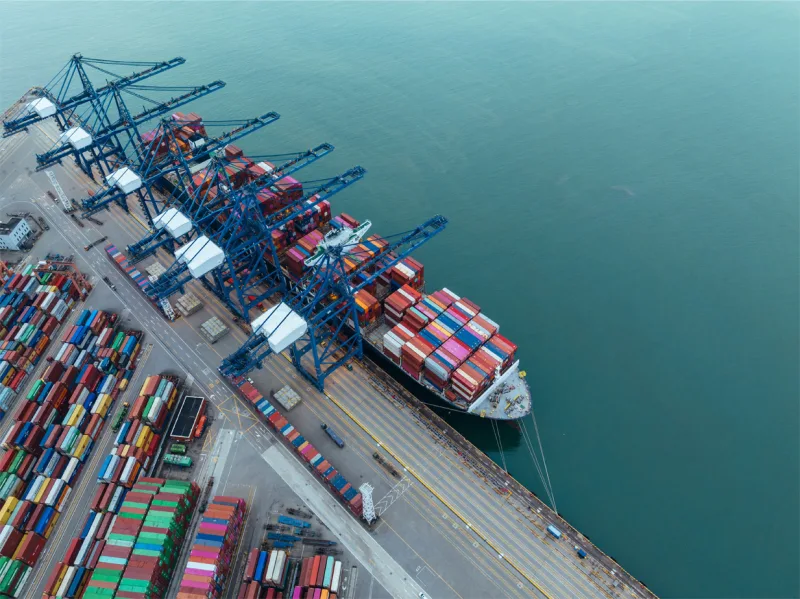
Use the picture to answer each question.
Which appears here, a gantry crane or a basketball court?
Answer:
gantry crane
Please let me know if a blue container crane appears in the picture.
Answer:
Yes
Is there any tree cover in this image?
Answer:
No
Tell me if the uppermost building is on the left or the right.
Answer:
left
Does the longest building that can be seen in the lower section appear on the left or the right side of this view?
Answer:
left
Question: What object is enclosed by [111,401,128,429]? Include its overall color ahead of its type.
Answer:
green vehicle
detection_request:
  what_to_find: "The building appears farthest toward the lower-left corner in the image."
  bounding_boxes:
[169,394,208,444]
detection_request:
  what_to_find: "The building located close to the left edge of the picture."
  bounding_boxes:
[0,217,31,247]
